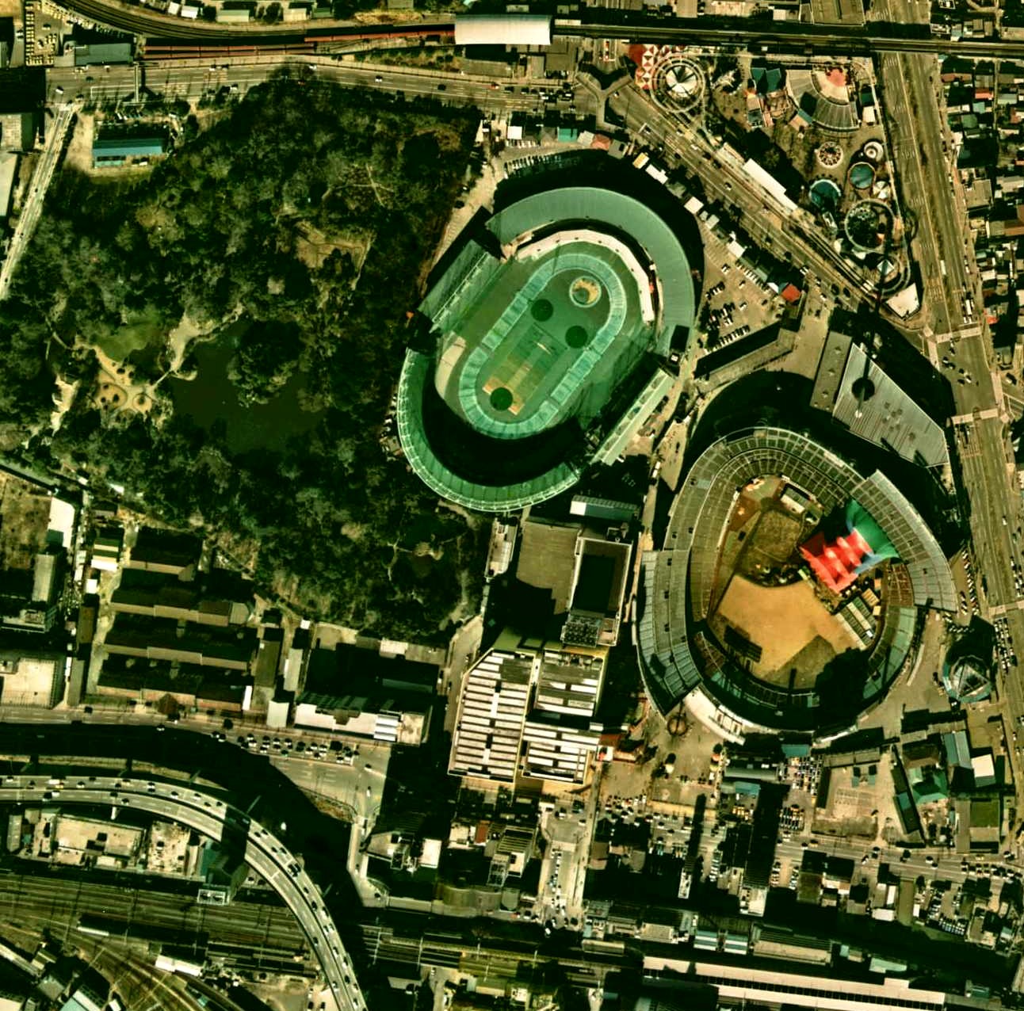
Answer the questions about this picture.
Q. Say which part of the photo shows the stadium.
right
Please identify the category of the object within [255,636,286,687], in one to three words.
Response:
building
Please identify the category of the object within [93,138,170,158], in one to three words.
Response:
house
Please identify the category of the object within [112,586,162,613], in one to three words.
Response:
building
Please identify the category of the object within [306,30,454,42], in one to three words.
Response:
train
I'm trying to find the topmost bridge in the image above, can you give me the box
[549,24,1024,57]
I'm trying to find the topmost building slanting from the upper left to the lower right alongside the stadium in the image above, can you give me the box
[833,340,949,469]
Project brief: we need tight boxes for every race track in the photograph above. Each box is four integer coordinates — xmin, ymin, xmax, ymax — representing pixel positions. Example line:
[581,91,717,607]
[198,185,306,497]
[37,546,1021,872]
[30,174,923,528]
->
[396,187,697,512]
